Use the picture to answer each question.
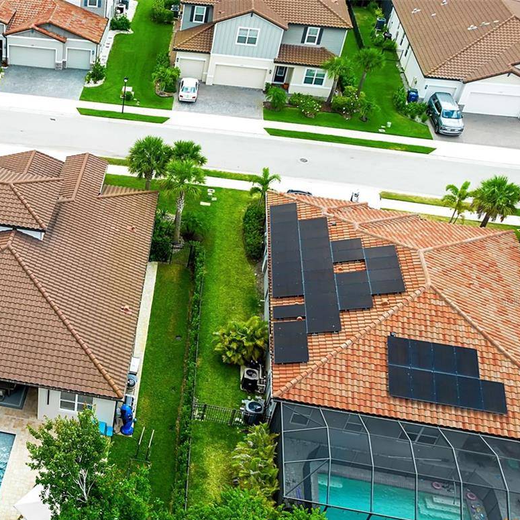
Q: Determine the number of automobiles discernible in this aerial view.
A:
2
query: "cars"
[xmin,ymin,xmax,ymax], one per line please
[172,75,199,102]
[429,96,477,136]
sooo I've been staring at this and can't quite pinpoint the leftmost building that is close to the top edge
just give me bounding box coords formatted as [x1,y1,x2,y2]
[0,0,117,69]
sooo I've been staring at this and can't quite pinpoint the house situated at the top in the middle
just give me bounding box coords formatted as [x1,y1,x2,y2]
[173,0,353,96]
